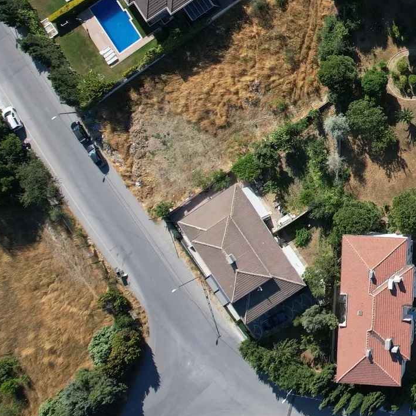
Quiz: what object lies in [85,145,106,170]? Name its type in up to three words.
car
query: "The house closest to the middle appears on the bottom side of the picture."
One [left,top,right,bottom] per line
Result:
[177,183,309,324]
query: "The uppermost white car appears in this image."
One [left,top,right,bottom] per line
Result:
[0,105,22,131]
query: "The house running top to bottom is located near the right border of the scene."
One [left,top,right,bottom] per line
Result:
[335,230,416,388]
